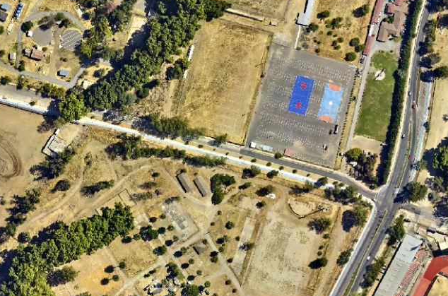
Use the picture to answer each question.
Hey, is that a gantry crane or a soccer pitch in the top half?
soccer pitch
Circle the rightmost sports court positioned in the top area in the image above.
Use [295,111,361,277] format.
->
[318,83,344,123]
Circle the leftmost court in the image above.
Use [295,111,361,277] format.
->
[288,75,314,113]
